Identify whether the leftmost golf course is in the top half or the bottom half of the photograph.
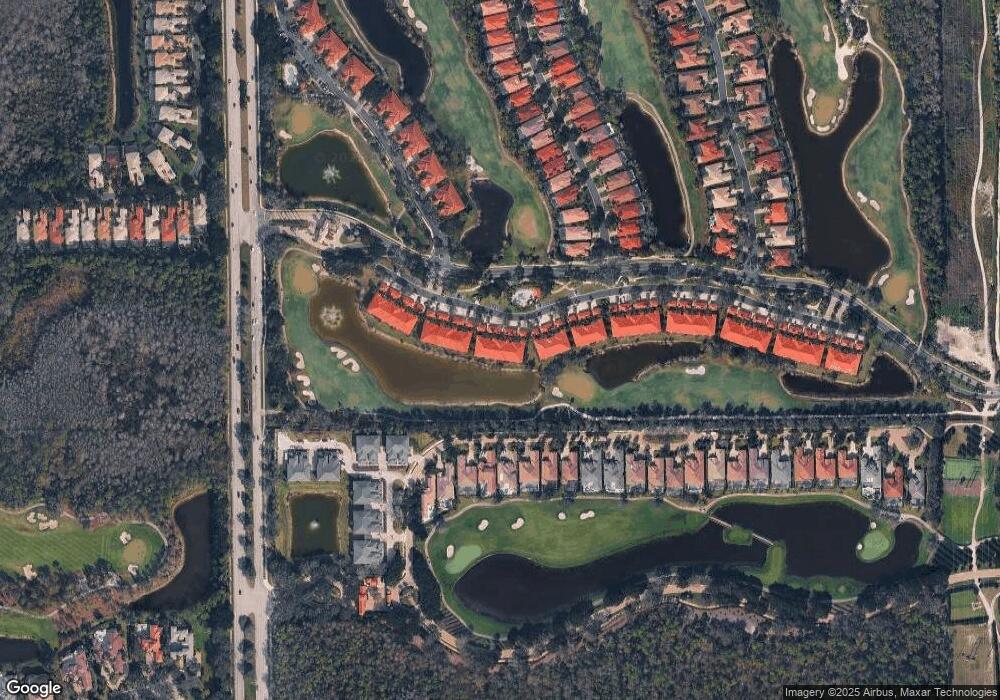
bottom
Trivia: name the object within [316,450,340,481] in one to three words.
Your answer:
building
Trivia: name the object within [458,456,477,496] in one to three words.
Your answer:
house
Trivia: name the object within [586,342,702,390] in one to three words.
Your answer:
pond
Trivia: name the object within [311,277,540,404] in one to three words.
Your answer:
pond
